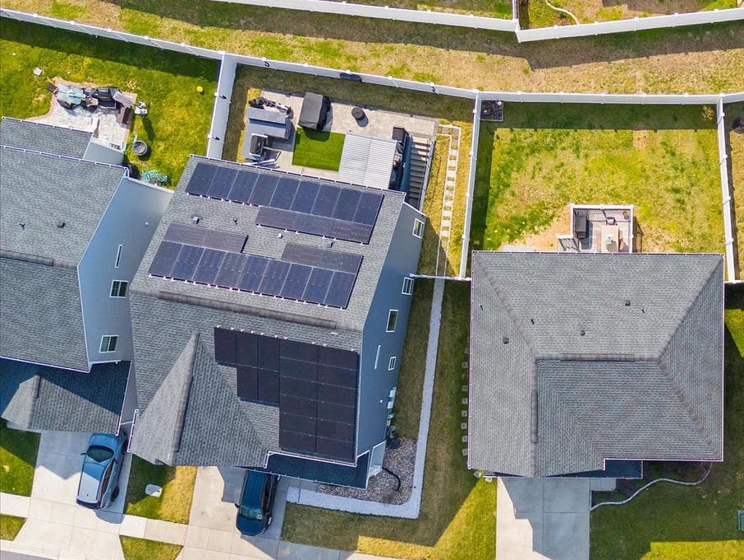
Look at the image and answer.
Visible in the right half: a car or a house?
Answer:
house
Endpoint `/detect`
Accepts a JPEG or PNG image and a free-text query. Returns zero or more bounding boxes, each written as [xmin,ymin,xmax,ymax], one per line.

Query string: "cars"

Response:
[233,470,280,536]
[74,433,127,514]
